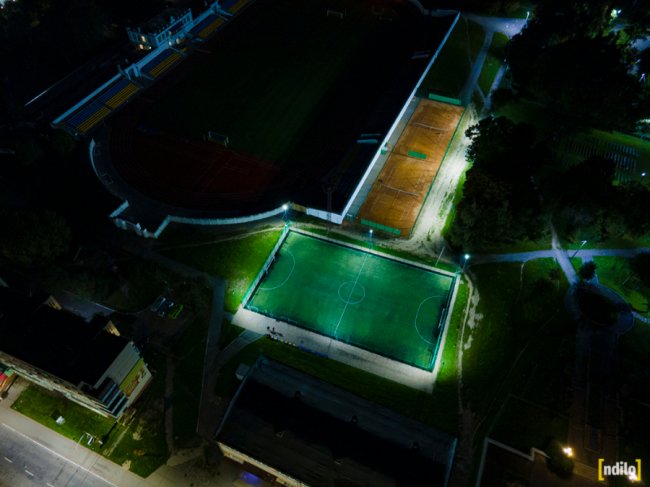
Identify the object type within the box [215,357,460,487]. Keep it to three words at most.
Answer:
building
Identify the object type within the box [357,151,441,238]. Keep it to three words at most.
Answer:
tennis court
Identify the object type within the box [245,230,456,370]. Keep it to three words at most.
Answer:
soccer field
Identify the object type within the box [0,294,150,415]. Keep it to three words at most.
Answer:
building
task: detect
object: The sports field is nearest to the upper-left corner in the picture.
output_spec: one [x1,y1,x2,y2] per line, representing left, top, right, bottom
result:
[133,4,404,170]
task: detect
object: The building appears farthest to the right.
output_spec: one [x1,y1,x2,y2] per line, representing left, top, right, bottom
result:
[475,437,554,487]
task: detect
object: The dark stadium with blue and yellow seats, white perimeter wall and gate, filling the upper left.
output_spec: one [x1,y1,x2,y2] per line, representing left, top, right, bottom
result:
[51,0,462,235]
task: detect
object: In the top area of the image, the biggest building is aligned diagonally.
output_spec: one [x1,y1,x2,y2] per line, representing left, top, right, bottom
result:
[128,8,193,53]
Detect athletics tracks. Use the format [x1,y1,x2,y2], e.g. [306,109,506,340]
[99,0,424,218]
